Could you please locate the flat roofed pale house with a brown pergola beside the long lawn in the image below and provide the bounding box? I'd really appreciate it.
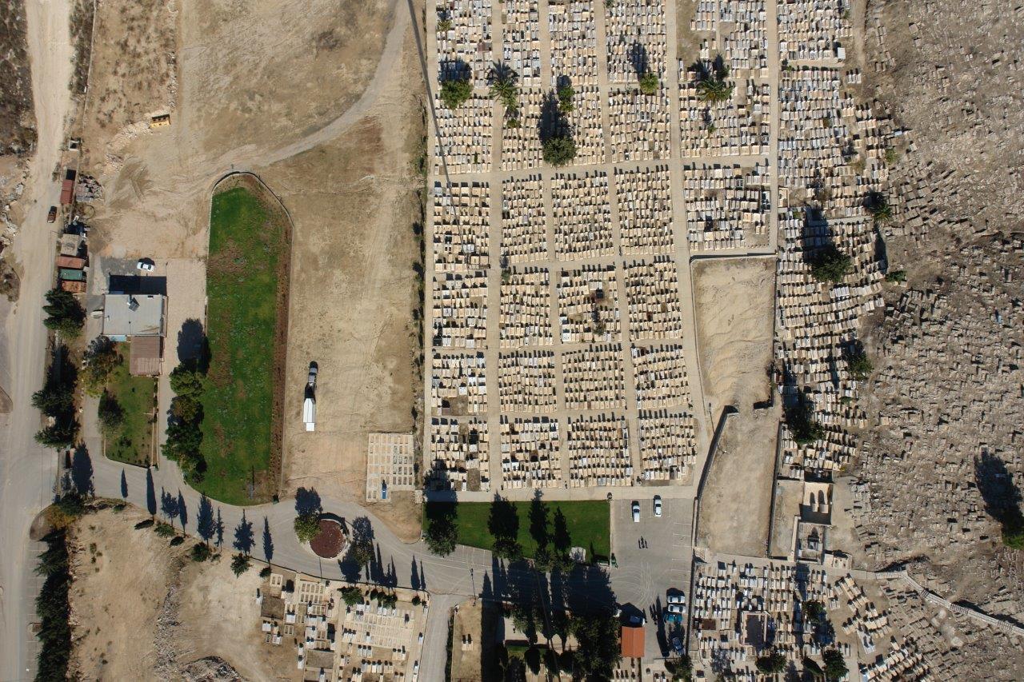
[104,294,173,335]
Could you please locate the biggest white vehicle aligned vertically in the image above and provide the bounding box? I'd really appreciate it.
[302,398,315,431]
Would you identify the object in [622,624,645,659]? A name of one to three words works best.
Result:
house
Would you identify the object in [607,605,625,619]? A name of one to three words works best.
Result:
car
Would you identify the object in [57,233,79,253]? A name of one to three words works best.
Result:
shed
